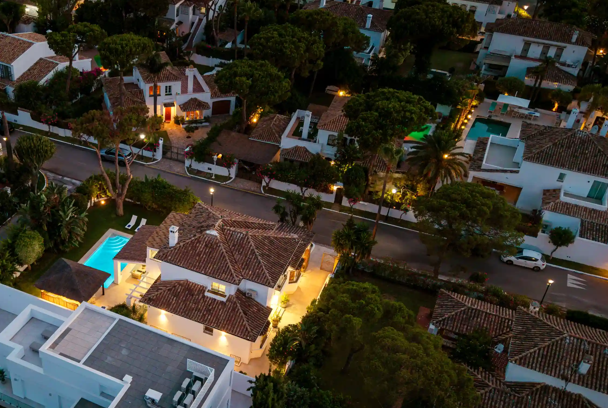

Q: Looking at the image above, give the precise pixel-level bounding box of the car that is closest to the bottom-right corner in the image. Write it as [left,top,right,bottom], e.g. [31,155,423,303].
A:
[498,252,546,277]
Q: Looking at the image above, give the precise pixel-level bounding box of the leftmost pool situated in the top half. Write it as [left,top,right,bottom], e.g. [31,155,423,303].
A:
[399,123,437,146]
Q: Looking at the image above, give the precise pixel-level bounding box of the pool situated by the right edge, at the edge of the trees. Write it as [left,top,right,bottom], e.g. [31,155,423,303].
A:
[460,98,600,142]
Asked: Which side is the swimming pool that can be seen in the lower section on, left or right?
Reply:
left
